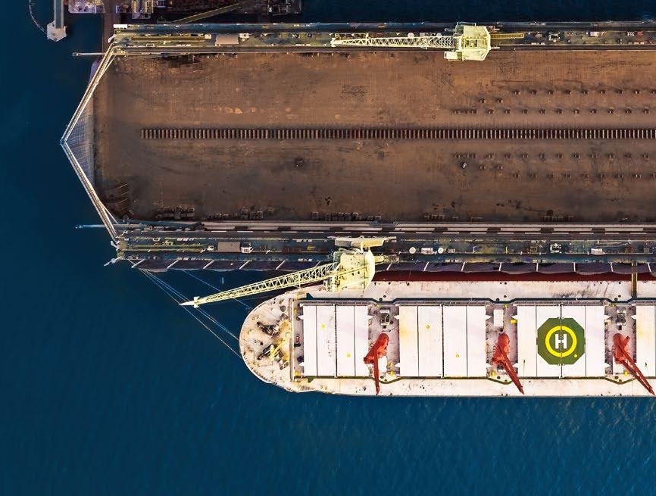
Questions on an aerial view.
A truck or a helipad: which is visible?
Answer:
helipad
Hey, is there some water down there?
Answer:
Yes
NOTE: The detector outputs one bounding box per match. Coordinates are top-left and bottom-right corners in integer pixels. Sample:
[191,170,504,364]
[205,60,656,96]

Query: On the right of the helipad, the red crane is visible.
[613,332,656,395]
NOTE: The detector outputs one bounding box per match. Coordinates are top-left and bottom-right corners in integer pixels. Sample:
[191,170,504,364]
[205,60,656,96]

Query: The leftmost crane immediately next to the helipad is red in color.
[493,332,526,394]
